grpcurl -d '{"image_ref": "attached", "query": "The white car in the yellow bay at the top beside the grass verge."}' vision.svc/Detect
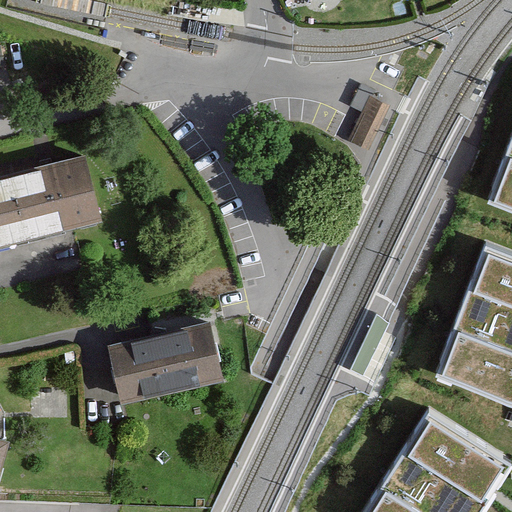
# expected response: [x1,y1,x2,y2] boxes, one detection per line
[376,62,402,79]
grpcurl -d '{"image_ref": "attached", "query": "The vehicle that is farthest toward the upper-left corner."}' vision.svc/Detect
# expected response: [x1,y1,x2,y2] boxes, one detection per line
[10,43,23,70]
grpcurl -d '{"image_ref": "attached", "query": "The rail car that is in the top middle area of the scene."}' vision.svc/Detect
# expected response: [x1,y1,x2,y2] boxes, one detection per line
[185,18,226,38]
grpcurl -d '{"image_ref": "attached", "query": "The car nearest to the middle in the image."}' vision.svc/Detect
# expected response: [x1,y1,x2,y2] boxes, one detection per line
[238,252,262,266]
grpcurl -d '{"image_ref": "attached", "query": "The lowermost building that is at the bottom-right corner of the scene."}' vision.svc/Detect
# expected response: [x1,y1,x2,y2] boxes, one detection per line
[360,404,512,512]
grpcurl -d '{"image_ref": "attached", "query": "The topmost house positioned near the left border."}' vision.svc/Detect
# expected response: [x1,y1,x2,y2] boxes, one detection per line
[0,154,102,248]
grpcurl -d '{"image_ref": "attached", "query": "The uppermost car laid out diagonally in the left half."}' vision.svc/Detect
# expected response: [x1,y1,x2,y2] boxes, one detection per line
[172,120,195,140]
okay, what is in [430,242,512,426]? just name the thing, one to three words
building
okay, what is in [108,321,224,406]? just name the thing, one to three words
house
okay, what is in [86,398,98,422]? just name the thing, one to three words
vehicle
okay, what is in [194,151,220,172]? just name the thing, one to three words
vehicle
